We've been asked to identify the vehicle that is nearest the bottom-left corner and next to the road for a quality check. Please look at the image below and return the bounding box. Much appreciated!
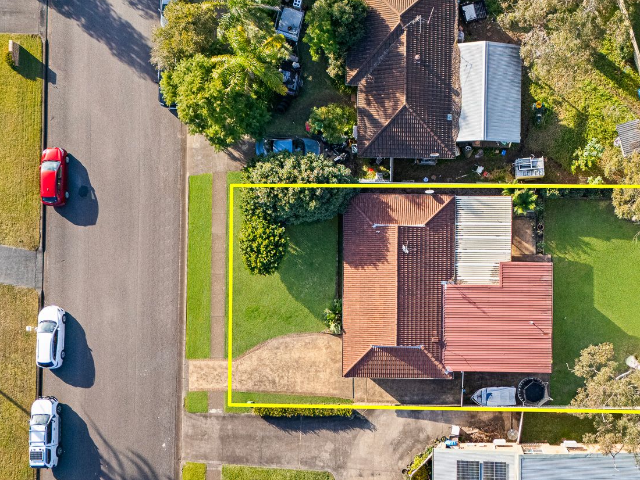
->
[23,396,63,472]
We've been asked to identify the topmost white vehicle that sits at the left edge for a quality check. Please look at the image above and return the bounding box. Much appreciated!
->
[29,308,66,370]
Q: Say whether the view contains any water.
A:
No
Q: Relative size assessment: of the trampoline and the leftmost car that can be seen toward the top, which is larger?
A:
the car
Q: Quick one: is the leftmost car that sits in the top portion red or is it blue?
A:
red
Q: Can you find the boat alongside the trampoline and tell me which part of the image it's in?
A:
bottom right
